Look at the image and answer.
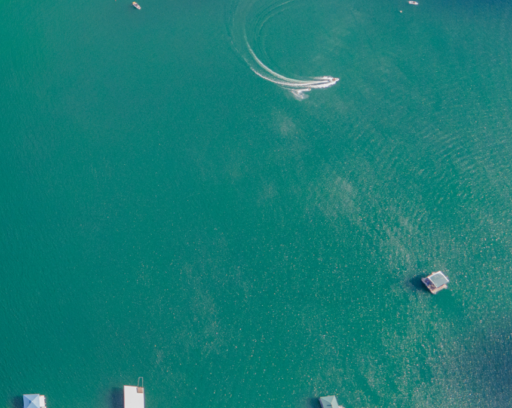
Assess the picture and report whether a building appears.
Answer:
No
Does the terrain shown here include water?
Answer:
Yes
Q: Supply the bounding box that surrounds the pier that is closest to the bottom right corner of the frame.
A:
[419,272,449,296]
